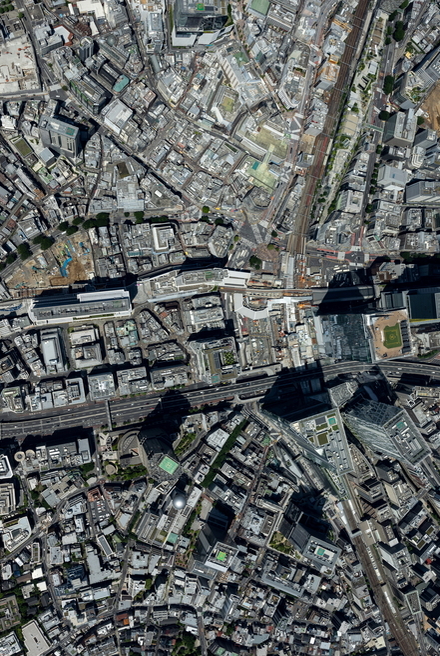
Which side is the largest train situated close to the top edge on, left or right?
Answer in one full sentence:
The largest train situated close to the top edge is on the right side of the image.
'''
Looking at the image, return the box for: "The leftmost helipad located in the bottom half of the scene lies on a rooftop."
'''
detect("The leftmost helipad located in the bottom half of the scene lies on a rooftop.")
[159,456,178,473]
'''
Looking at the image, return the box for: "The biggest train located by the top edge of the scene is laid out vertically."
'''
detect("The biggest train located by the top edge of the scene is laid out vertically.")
[334,19,357,99]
